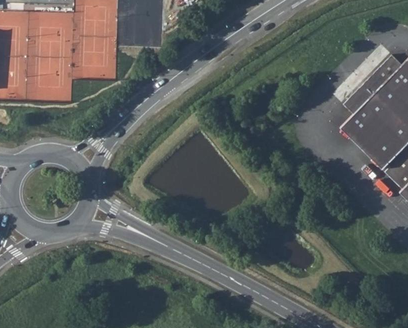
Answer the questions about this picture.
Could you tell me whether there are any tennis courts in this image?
Yes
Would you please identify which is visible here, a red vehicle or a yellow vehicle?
red vehicle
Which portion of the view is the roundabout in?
left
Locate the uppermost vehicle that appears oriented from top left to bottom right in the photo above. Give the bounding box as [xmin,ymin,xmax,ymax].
[361,165,378,182]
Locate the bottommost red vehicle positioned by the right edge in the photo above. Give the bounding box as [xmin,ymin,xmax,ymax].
[375,179,392,197]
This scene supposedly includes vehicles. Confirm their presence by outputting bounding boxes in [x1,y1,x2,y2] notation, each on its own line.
[74,144,85,152]
[361,165,378,182]
[31,160,42,168]
[25,240,36,249]
[249,23,261,32]
[375,179,392,197]
[2,216,8,227]
[264,23,276,31]
[114,130,124,138]
[58,221,70,226]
